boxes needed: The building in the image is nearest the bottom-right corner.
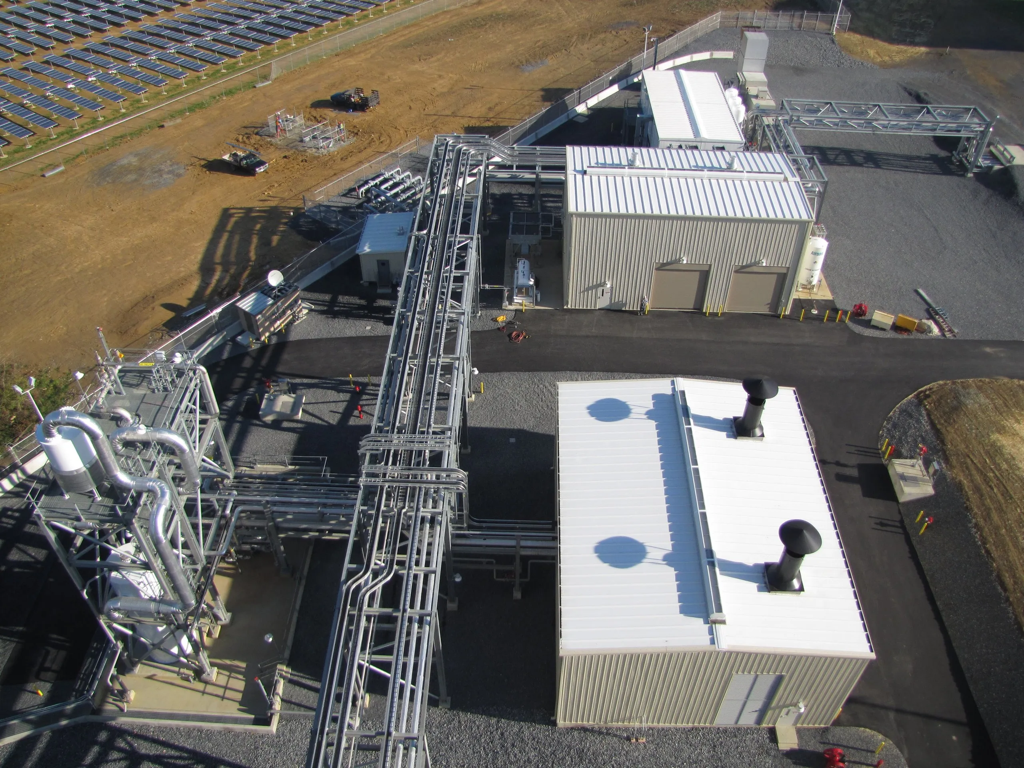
[547,377,880,756]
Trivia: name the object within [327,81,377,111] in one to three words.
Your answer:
truck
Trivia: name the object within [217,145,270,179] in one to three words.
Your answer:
truck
